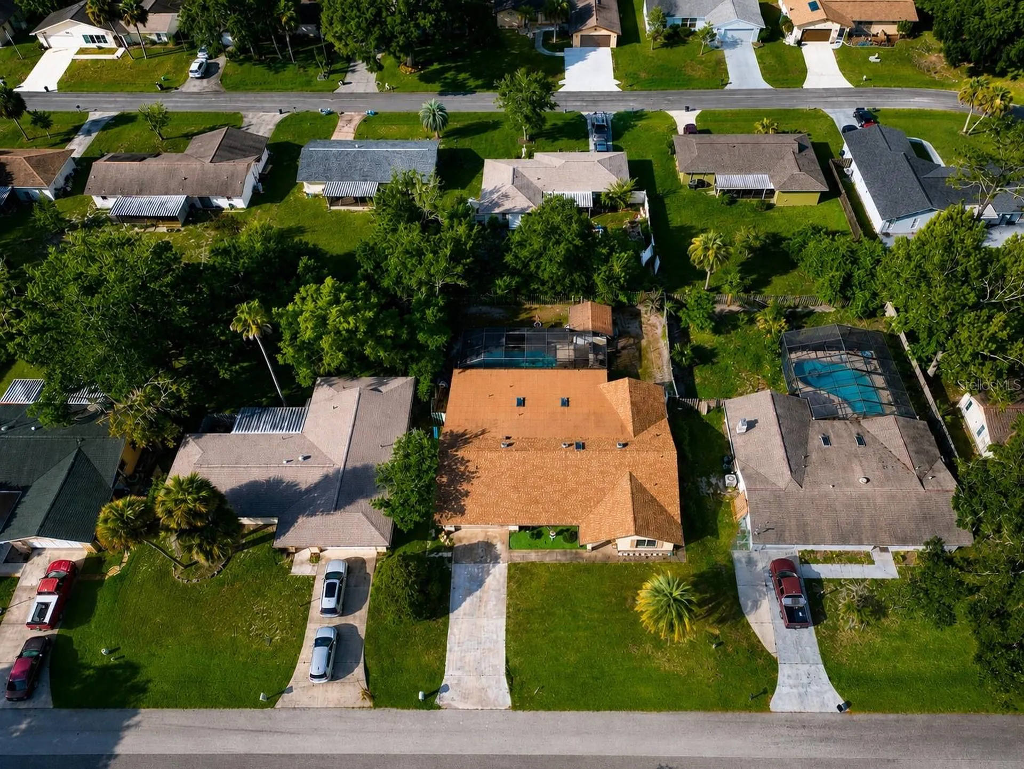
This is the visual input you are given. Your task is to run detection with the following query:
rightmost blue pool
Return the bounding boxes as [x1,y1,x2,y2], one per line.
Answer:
[793,357,886,418]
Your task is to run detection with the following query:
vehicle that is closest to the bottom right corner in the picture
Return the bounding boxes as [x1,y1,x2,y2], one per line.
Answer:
[769,560,810,629]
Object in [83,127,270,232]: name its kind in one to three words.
house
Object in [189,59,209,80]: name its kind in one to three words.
car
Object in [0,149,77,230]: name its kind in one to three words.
house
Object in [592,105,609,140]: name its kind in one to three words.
vehicle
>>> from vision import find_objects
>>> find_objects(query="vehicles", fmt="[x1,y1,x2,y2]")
[769,560,810,629]
[592,105,609,140]
[682,121,698,134]
[840,125,856,135]
[851,106,877,126]
[27,562,79,628]
[319,561,349,618]
[593,138,609,152]
[308,628,339,684]
[189,59,209,80]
